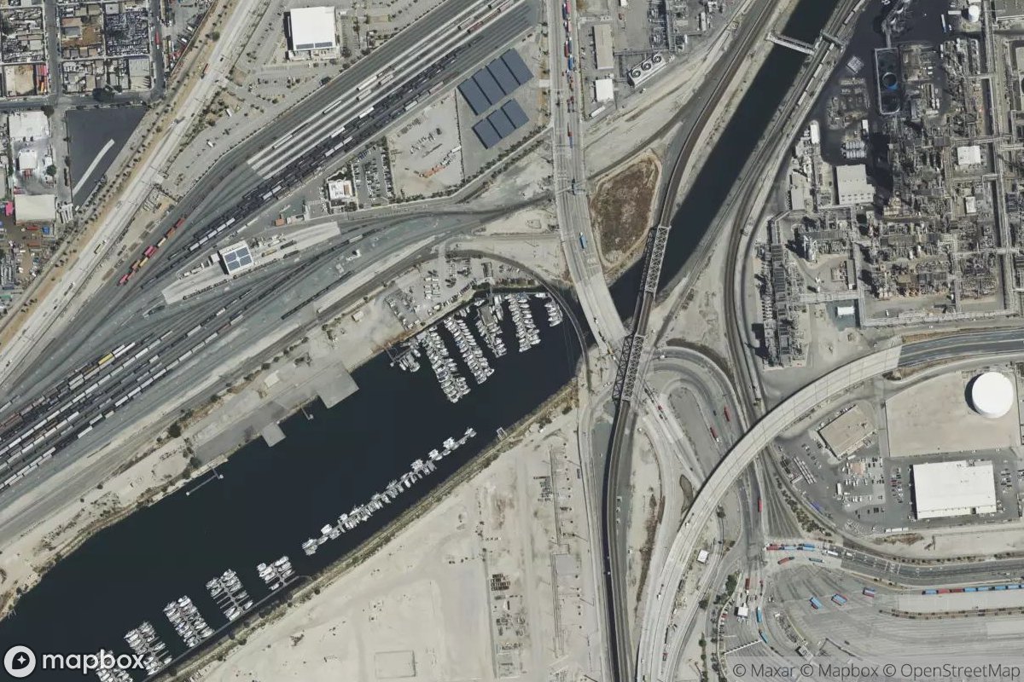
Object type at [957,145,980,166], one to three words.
building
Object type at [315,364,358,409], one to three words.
pier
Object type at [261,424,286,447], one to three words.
pier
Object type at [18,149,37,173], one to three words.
building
